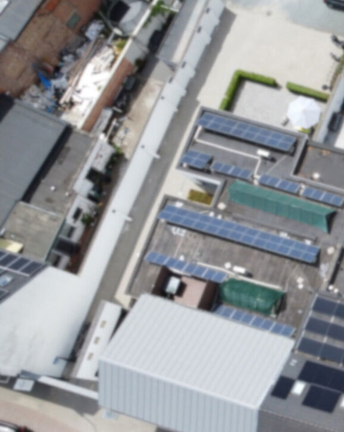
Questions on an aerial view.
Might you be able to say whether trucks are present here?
No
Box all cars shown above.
[0,420,30,432]
[321,0,344,10]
